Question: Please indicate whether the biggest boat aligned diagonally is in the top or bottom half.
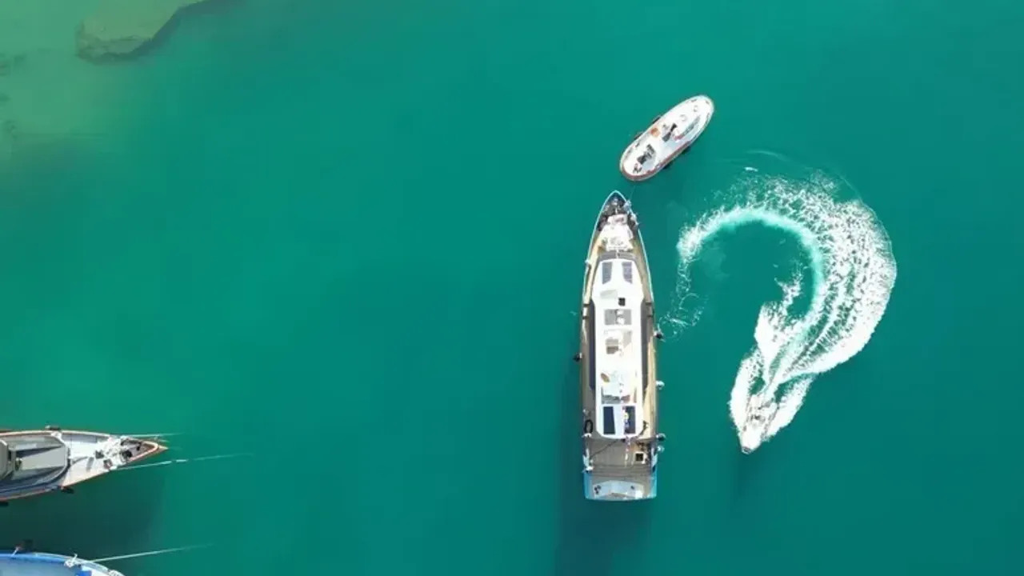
top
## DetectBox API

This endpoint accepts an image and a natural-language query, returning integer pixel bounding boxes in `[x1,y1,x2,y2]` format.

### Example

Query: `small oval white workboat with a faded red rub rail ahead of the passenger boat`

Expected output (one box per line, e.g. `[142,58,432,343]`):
[617,93,715,185]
